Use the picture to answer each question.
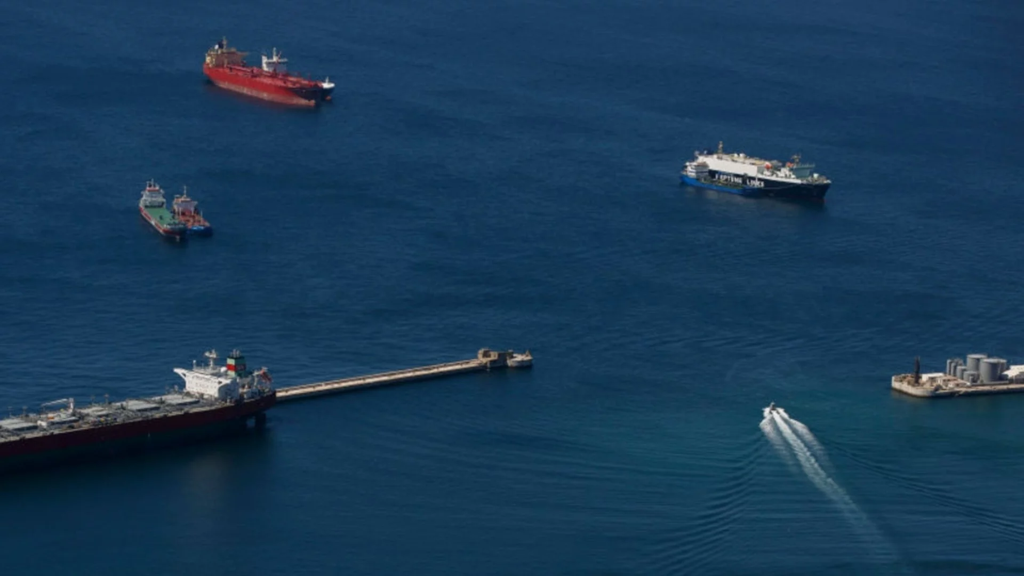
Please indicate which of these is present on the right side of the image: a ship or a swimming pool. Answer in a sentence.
Looking on the right side of the image, you will find a ship.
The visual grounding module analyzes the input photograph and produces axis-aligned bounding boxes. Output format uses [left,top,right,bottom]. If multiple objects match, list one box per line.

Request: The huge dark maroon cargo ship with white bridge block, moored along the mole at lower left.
[0,349,280,473]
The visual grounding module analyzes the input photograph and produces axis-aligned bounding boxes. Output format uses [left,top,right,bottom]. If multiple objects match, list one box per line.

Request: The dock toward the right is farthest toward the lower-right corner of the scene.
[892,362,1024,397]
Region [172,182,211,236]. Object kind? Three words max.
ship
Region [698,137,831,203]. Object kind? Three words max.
ship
